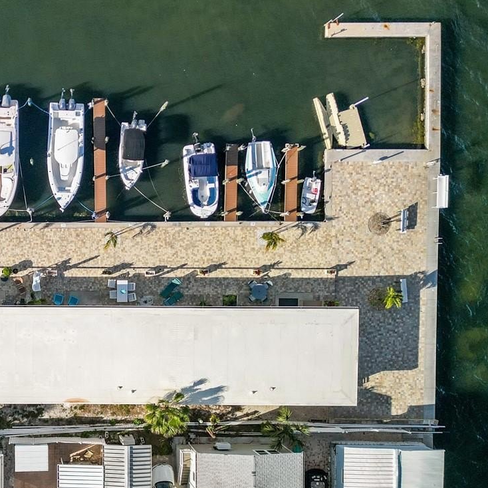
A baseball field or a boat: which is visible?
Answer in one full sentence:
Visible in the photo is a boat.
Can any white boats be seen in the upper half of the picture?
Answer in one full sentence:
Yes, I can see a white boat in the upper half of the picture.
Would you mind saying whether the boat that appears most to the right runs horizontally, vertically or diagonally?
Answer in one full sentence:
What the image shows is the boat that appears most to the right lying vertically.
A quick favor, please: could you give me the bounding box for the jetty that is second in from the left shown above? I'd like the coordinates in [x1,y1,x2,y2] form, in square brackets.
[224,143,238,221]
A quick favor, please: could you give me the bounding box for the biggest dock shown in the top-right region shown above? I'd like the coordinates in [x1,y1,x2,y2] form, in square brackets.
[321,23,440,150]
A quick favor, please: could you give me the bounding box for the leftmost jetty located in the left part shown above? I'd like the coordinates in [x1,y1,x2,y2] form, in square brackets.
[93,98,107,221]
